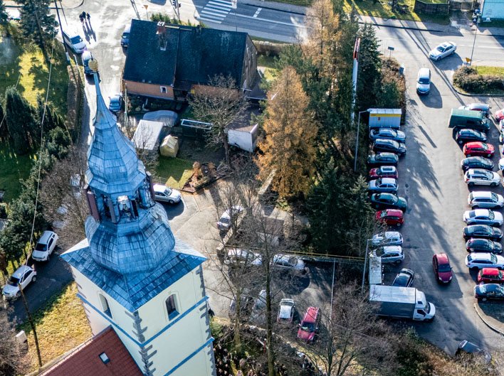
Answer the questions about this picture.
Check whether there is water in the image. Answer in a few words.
No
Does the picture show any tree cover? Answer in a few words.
Yes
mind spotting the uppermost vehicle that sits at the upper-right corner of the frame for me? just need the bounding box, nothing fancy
[426,41,459,60]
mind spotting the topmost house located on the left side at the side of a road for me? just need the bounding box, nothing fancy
[122,12,267,108]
